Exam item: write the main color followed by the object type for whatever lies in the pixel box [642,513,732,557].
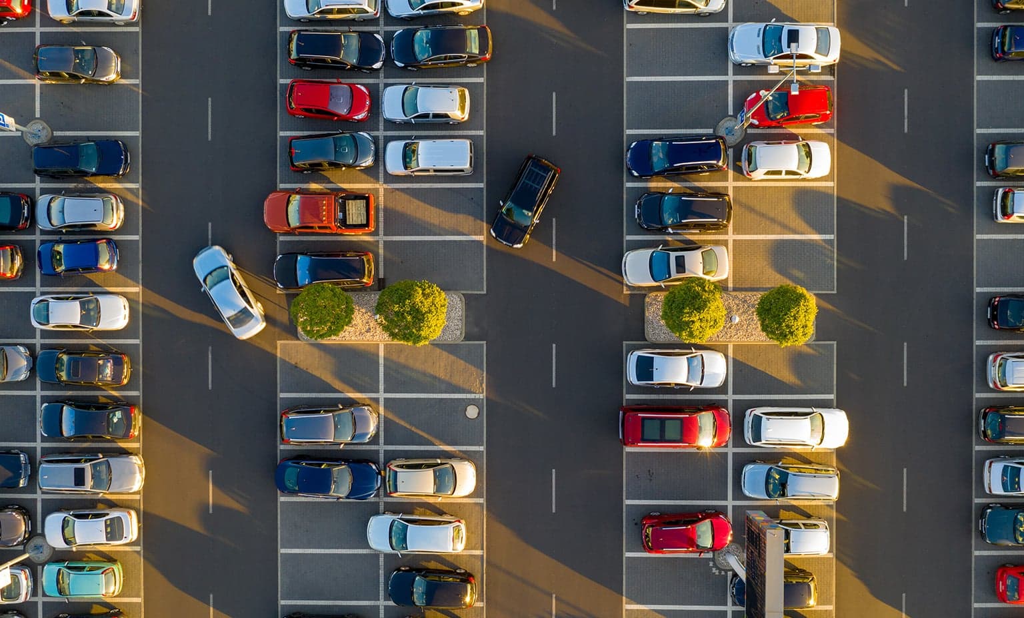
red car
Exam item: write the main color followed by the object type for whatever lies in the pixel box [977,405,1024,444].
black car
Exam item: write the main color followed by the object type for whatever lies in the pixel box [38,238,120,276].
blue car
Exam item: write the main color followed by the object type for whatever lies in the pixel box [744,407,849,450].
white car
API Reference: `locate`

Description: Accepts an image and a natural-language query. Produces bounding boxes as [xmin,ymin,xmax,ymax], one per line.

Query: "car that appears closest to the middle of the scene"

[490,153,562,247]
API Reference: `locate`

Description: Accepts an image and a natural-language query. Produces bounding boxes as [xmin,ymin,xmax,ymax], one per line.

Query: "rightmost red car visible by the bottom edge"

[994,561,1024,604]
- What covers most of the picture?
paved ground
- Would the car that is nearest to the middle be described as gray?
No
